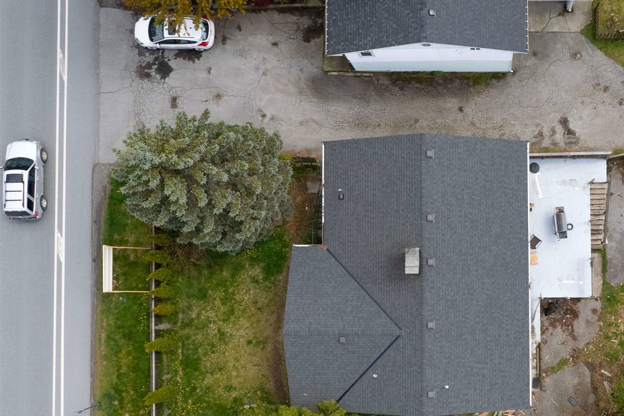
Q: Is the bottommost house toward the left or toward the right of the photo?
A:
right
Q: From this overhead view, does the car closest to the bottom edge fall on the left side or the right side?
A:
left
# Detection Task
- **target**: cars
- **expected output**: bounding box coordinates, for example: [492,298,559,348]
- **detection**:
[135,9,216,49]
[1,139,48,220]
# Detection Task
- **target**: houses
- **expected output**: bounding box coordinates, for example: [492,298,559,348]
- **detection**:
[318,0,530,74]
[283,136,533,416]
